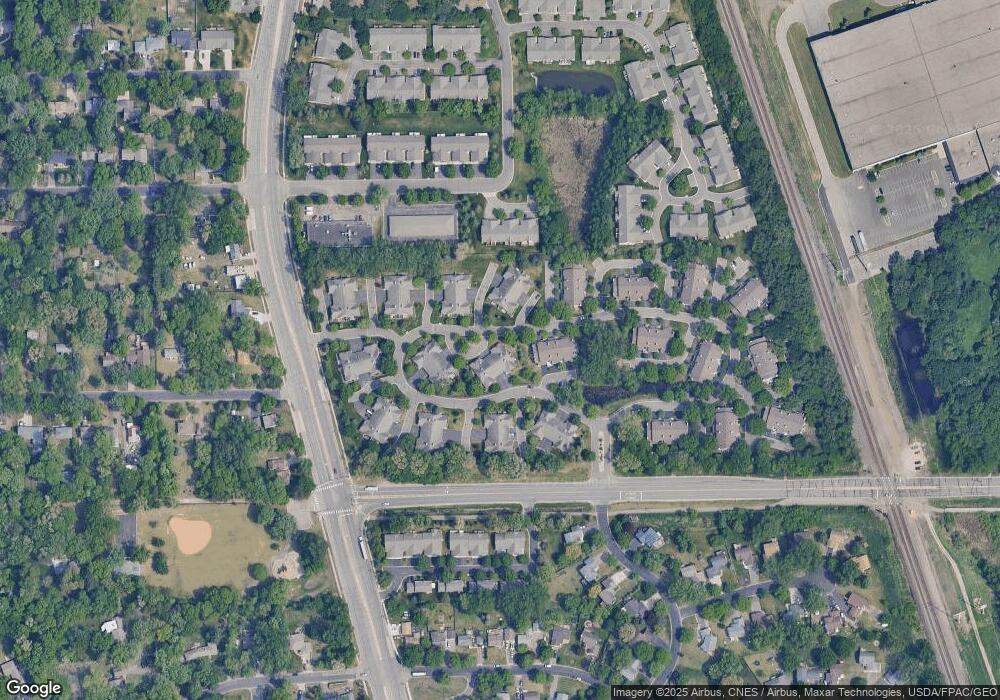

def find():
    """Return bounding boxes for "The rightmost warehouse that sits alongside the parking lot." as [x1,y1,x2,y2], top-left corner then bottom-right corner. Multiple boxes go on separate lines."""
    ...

[810,0,1000,182]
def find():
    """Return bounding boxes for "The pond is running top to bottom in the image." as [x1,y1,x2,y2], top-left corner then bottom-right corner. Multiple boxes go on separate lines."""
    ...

[893,311,938,419]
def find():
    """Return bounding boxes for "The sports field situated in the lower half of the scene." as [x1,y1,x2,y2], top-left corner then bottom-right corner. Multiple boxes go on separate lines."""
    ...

[141,504,271,590]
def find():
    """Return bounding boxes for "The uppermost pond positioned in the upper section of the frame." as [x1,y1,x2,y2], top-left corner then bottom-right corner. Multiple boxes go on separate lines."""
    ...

[536,70,616,97]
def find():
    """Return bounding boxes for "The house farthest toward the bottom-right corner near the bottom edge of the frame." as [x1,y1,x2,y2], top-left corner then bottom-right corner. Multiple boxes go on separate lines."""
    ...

[882,670,909,692]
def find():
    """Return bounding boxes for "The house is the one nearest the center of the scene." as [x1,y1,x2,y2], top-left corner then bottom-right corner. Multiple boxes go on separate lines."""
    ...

[468,339,518,390]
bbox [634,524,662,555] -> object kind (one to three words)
house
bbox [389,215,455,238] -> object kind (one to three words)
building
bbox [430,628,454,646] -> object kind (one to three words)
house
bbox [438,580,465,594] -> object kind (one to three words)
building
